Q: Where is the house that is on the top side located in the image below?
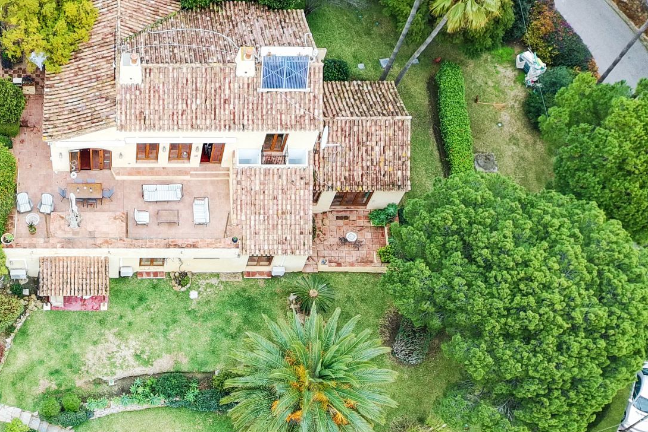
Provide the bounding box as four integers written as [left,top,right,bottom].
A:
[3,0,412,285]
